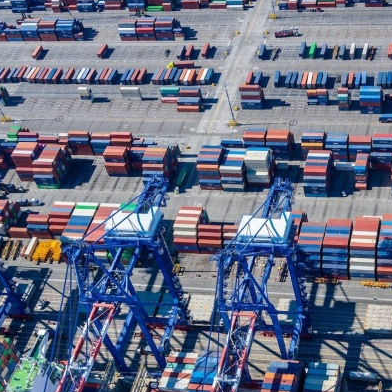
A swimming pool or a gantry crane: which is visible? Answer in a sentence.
The image shows a gantry crane.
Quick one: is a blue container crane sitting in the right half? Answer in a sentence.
Yes, a blue container crane shows up in the right half.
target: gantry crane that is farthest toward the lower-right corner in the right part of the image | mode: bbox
[200,181,312,392]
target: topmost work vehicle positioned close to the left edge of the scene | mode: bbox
[15,8,30,24]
